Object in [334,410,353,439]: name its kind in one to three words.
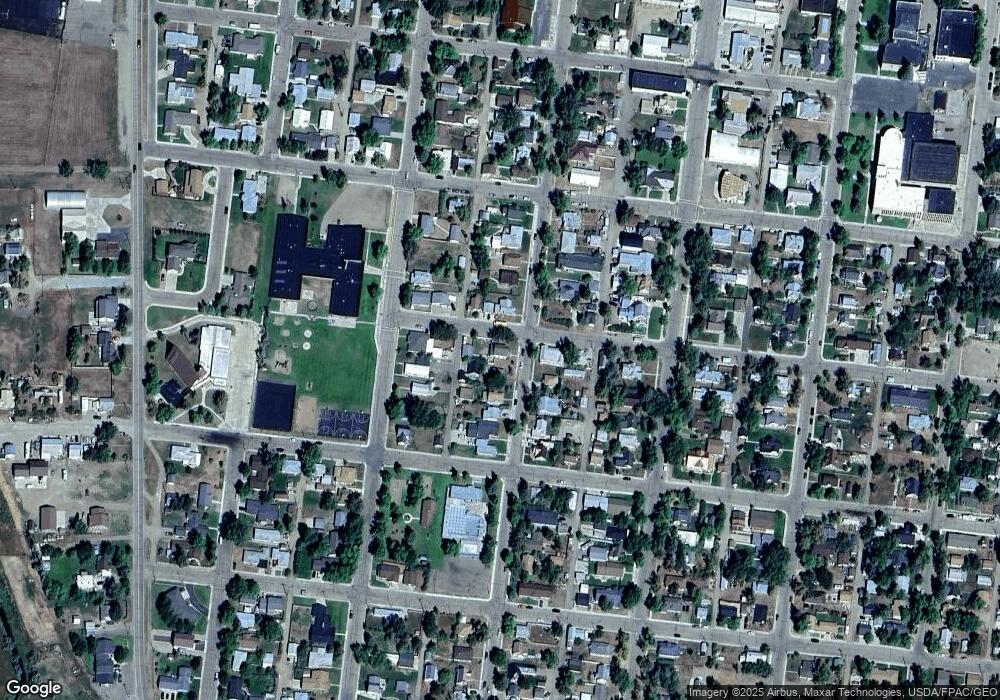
basketball court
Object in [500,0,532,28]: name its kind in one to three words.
house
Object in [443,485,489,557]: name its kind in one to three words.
building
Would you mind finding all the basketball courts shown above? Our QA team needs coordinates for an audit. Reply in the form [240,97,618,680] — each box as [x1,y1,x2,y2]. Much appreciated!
[351,412,369,442]
[334,410,353,439]
[317,409,337,437]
